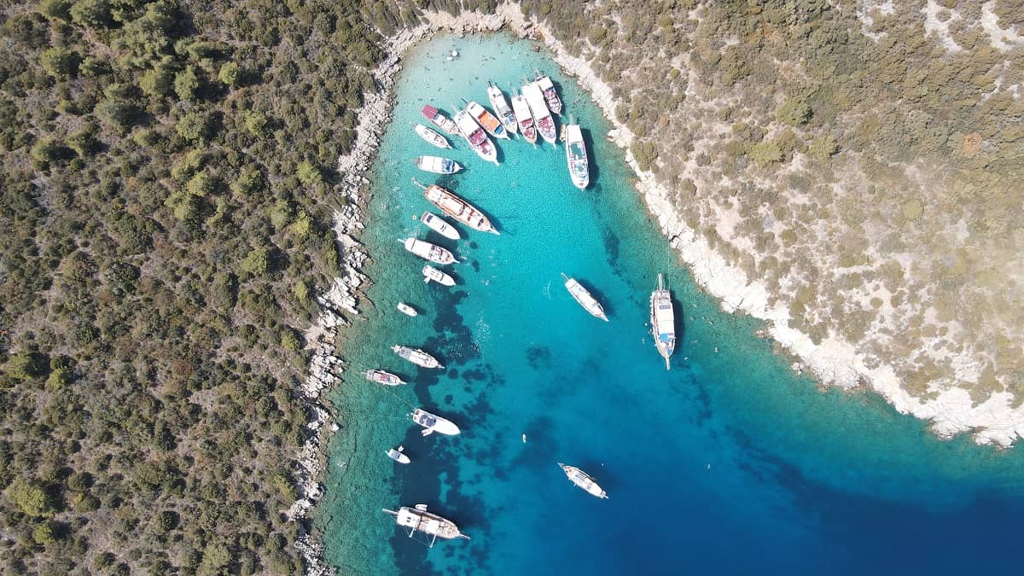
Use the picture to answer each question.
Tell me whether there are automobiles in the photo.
No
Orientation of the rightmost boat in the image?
up and down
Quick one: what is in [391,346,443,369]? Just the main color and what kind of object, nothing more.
white boat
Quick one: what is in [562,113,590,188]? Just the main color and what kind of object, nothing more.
white boat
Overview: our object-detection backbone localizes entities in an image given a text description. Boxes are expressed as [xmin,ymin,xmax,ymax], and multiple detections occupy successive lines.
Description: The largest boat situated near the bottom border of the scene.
[382,508,470,548]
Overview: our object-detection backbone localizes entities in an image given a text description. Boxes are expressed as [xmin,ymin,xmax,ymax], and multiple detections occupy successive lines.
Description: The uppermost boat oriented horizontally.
[412,155,463,175]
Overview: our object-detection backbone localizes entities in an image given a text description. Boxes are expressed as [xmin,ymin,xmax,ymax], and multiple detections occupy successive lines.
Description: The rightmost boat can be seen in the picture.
[649,273,679,370]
